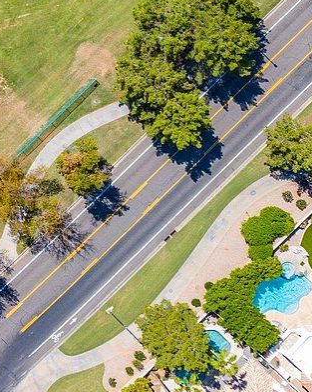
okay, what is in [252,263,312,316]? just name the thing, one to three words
swimming pool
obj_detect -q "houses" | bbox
[207,356,290,392]
[280,332,312,392]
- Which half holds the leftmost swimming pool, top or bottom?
bottom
